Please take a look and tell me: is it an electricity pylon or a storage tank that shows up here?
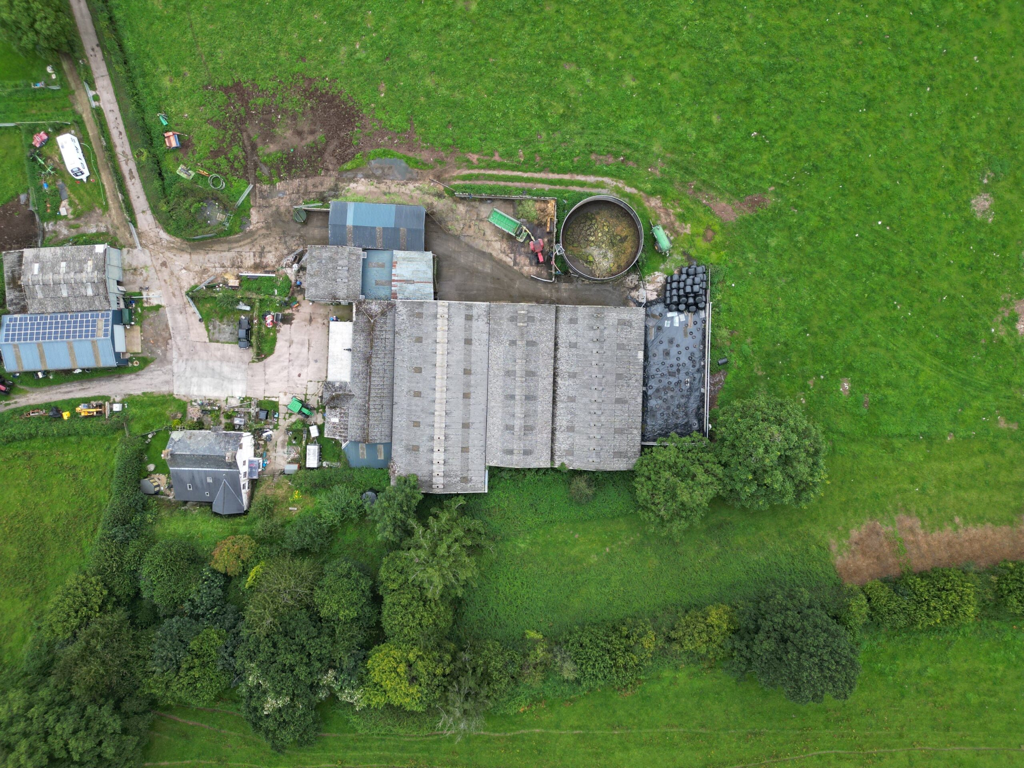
storage tank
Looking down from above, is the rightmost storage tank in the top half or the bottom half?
top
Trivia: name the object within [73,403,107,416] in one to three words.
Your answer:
vehicle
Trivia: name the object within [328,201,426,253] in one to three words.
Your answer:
shed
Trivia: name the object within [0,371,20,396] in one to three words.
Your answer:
work vehicle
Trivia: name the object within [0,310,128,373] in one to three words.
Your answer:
barn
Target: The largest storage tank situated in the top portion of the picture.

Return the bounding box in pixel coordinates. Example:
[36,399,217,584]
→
[555,195,644,282]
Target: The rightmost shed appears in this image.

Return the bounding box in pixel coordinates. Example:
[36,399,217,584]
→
[550,305,645,470]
